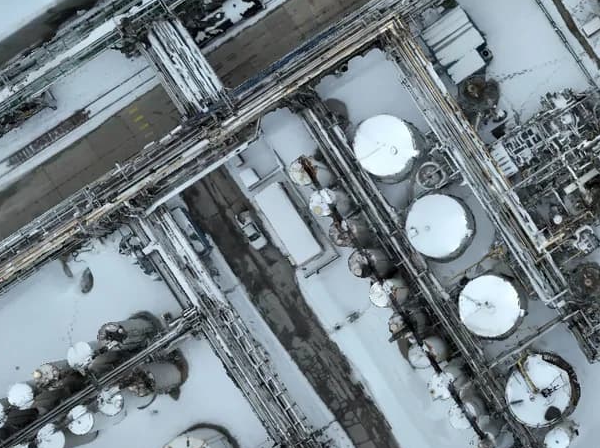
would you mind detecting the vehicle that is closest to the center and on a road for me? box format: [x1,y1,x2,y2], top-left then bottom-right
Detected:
[233,208,270,253]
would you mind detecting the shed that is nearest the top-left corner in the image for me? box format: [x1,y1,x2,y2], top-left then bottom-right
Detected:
[239,166,266,188]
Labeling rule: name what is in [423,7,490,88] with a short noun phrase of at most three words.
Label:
building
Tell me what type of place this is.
industrial area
